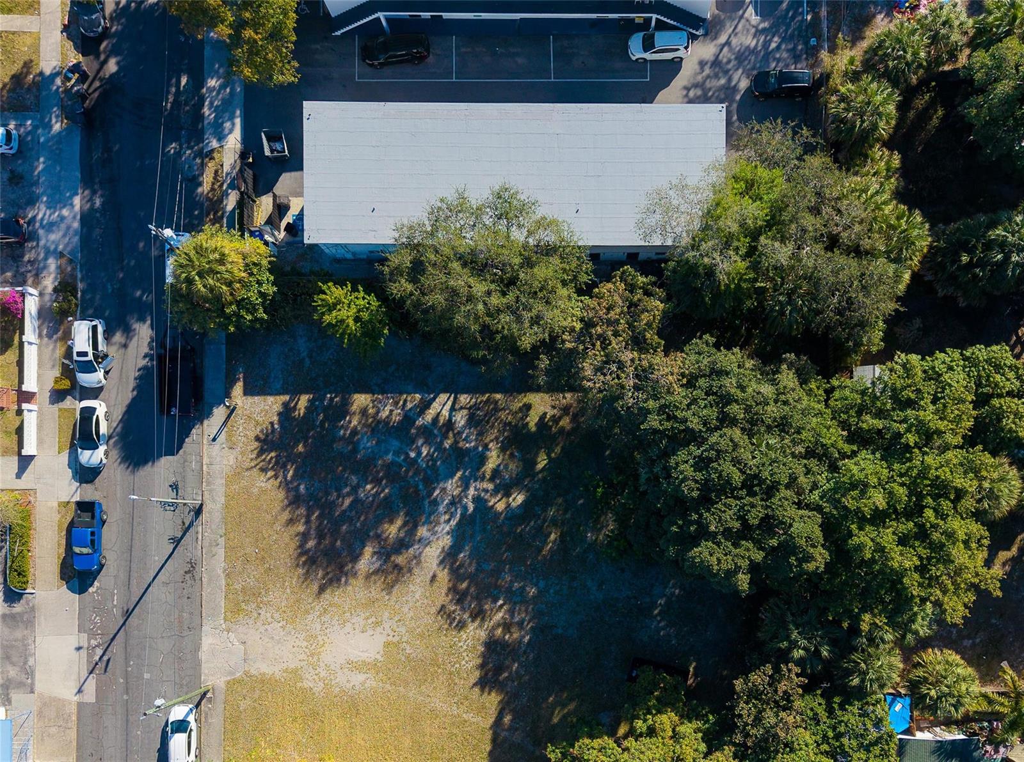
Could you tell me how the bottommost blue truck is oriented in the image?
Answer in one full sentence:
In this picture, the bottommost blue truck is oriented vertically.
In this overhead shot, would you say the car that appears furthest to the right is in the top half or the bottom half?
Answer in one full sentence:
The car that appears furthest to the right is in the top half of the image.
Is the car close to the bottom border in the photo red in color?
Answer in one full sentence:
No, the color of the car close to the bottom border is white.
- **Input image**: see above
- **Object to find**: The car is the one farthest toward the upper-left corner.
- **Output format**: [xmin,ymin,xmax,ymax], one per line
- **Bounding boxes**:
[73,0,107,39]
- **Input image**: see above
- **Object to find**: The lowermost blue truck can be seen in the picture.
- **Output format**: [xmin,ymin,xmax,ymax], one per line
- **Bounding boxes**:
[70,499,107,570]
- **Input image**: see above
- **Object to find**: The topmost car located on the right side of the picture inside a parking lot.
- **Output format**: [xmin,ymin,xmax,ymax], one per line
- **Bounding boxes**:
[627,28,691,63]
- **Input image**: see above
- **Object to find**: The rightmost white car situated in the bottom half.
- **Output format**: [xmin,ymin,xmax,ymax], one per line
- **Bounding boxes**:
[166,703,201,762]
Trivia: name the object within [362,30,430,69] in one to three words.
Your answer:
car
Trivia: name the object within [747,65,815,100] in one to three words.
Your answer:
car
